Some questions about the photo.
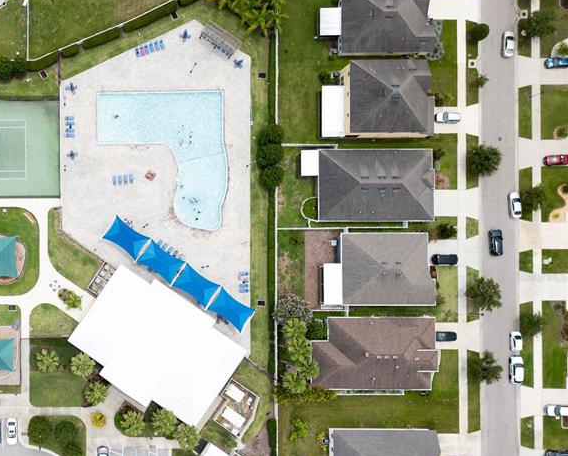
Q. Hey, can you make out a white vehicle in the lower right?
Yes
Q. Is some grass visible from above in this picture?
Yes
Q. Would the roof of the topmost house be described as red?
No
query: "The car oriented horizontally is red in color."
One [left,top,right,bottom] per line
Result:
[543,154,568,166]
